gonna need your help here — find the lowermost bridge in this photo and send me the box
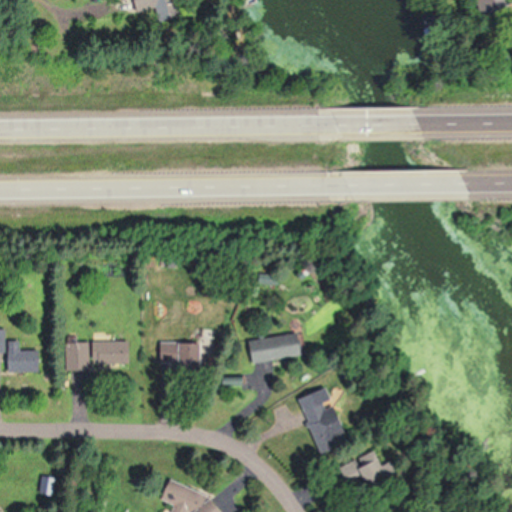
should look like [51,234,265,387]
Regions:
[330,169,470,204]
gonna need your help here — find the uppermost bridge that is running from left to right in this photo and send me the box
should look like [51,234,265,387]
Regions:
[320,105,423,143]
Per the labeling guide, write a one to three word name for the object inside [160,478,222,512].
house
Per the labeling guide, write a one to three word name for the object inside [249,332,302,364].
house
